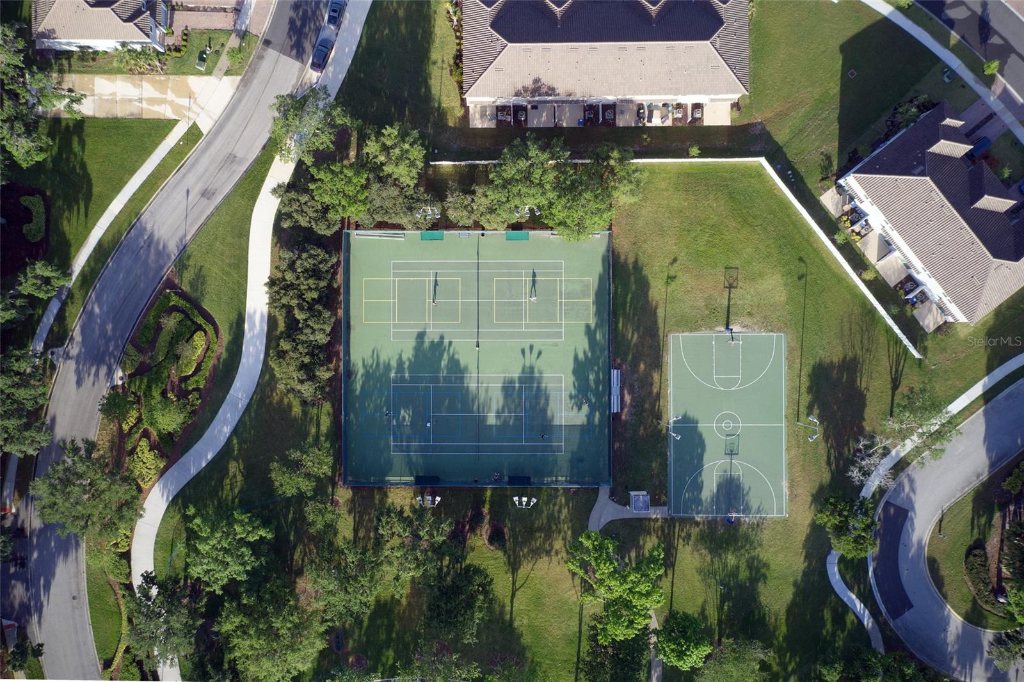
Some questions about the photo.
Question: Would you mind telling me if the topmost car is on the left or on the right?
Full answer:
You can find the topmost car on the left side of the picture.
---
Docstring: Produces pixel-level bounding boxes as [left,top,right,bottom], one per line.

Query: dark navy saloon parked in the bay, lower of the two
[311,38,333,74]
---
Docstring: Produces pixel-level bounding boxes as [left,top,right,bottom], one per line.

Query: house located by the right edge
[839,103,1024,323]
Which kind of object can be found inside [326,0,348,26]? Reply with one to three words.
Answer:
car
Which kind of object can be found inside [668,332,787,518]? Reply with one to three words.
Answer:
basketball court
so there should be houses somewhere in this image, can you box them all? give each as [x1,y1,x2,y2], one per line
[36,0,172,51]
[463,0,749,106]
[839,103,1024,323]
